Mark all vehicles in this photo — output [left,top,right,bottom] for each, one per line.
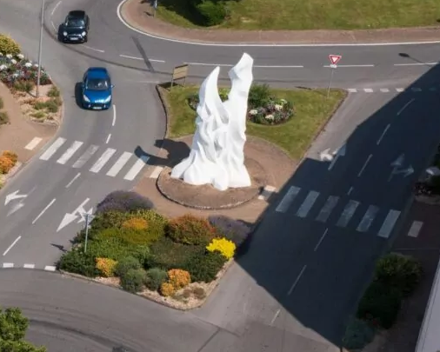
[60,3,93,44]
[79,62,115,109]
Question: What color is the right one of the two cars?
blue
